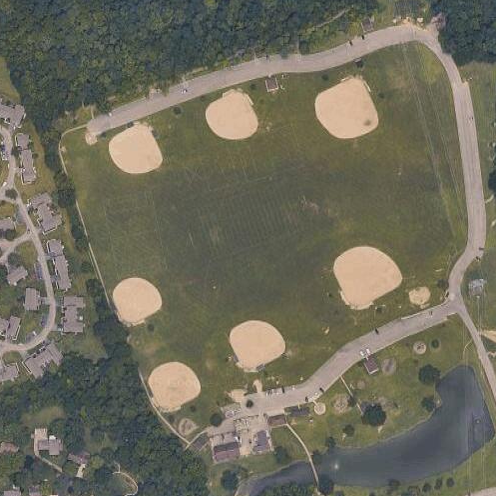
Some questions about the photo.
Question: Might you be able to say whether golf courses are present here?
No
